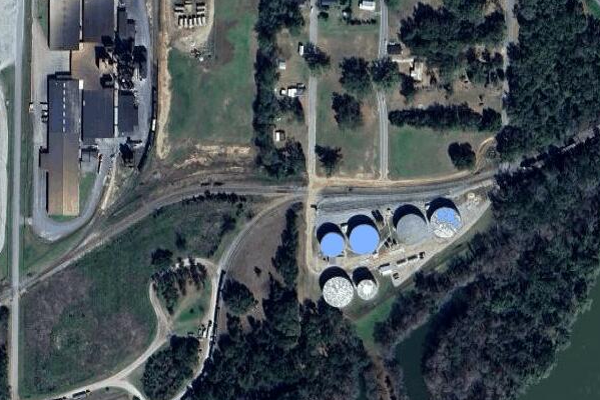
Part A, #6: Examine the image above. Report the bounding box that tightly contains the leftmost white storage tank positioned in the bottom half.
[322,276,354,308]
